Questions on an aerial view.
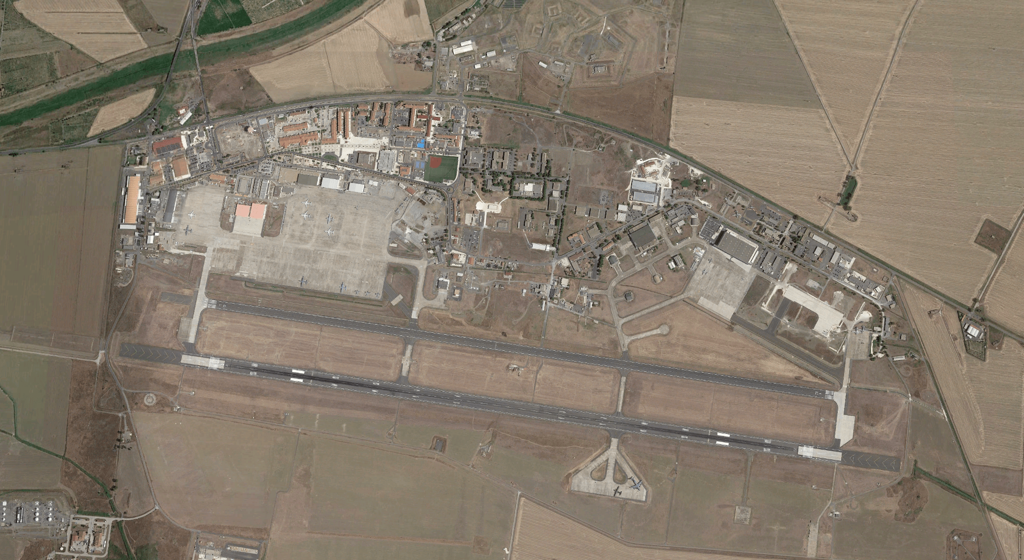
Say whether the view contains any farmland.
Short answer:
Yes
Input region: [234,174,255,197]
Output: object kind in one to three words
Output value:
building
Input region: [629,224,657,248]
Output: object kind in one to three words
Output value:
hangar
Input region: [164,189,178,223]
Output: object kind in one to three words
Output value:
hangar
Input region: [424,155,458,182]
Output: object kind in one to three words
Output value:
sports field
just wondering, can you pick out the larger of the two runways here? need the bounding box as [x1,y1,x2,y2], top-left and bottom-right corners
[179,351,844,464]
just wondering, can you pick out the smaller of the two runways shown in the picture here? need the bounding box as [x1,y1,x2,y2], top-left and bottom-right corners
[208,299,835,400]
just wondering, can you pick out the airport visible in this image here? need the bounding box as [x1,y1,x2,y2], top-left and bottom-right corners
[118,184,904,503]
